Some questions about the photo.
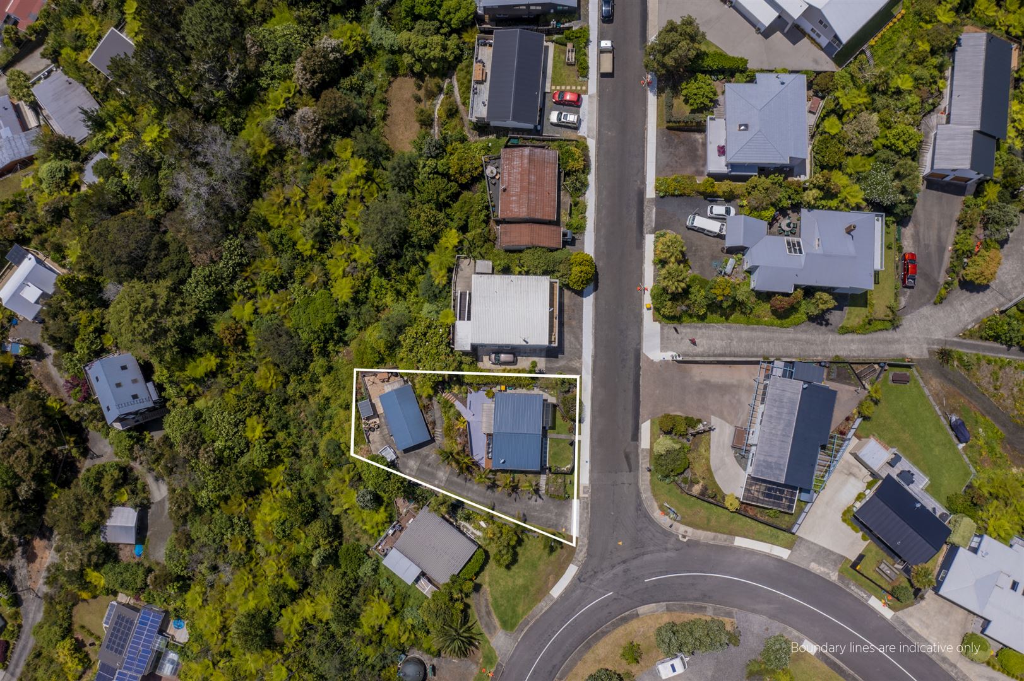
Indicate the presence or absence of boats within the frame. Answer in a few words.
Yes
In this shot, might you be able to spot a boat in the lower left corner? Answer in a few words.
No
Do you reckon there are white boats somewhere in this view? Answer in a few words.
No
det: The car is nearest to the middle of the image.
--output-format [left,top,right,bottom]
[489,351,517,366]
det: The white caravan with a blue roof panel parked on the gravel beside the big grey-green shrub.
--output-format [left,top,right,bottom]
[655,655,689,681]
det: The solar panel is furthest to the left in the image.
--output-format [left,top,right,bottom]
[5,243,30,267]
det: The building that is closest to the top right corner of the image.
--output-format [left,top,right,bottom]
[935,25,1021,140]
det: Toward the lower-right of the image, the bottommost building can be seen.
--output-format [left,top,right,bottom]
[931,533,1024,654]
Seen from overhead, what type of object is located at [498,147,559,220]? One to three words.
house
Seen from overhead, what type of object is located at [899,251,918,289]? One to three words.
vehicle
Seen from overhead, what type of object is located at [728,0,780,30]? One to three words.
building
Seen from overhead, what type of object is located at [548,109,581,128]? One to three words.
car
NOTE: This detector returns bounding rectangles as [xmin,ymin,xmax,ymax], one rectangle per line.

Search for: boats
[948,408,973,447]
